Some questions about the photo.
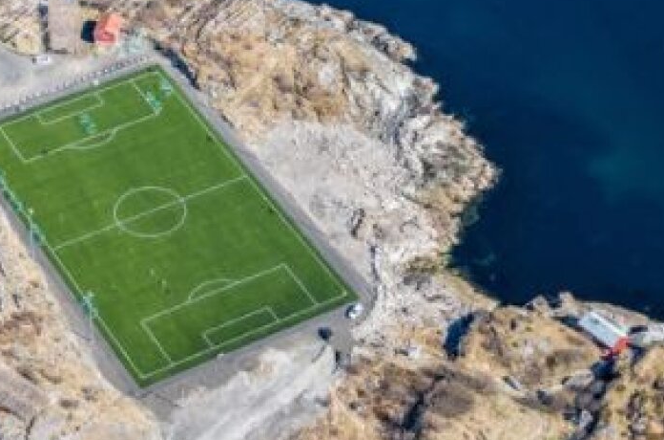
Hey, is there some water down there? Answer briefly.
Yes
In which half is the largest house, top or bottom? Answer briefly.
bottom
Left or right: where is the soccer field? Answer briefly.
left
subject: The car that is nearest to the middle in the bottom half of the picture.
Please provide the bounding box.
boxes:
[349,306,362,319]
